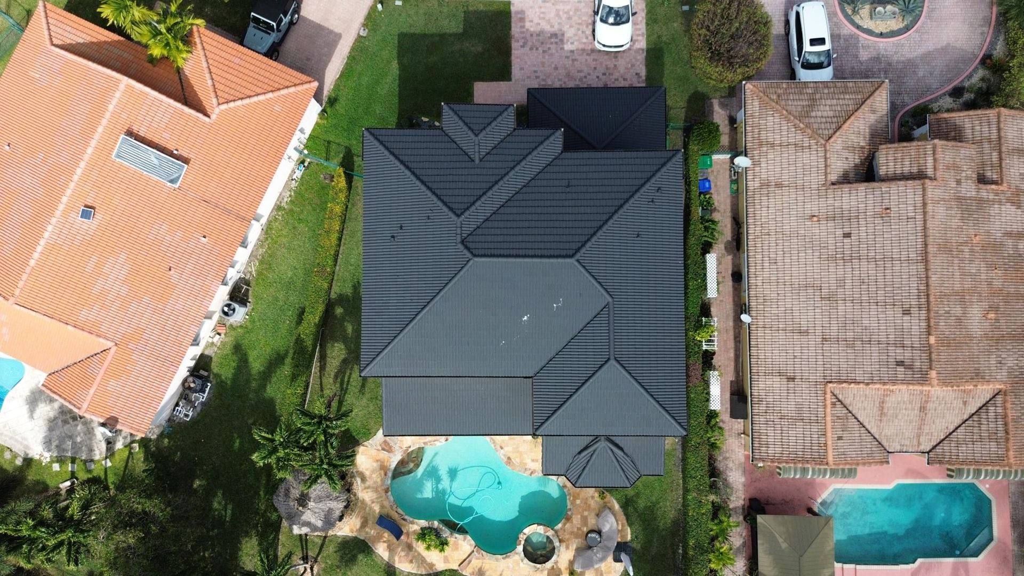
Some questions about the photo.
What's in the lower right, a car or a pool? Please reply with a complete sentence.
Visible in the lower right is a pool.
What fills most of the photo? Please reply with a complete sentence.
For the most part, this view shows buildings.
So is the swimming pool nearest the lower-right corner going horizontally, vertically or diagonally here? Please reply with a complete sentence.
The swimming pool nearest the lower-right corner runs horizontally in the image.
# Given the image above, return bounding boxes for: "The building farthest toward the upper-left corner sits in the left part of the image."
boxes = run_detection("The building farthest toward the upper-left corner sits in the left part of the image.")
[0,0,326,438]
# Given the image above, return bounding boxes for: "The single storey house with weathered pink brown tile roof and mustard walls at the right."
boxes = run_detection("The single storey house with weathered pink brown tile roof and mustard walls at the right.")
[730,78,1024,480]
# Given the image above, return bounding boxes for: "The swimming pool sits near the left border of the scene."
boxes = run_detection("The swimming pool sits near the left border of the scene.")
[0,358,24,412]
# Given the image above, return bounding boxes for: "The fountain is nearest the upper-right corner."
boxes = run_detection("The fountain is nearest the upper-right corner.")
[870,5,898,19]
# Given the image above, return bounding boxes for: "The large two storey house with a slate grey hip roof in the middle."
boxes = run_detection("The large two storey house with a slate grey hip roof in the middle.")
[359,85,689,489]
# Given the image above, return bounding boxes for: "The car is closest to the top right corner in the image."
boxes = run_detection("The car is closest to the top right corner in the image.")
[788,0,841,79]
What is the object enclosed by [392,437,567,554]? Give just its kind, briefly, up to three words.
swimming pool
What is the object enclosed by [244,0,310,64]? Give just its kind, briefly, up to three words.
car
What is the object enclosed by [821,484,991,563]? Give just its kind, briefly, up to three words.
swimming pool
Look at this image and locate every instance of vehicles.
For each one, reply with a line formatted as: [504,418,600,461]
[591,0,638,51]
[788,0,841,79]
[244,0,310,64]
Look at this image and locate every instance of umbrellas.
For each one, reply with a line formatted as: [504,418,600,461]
[619,551,635,576]
[276,455,360,536]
